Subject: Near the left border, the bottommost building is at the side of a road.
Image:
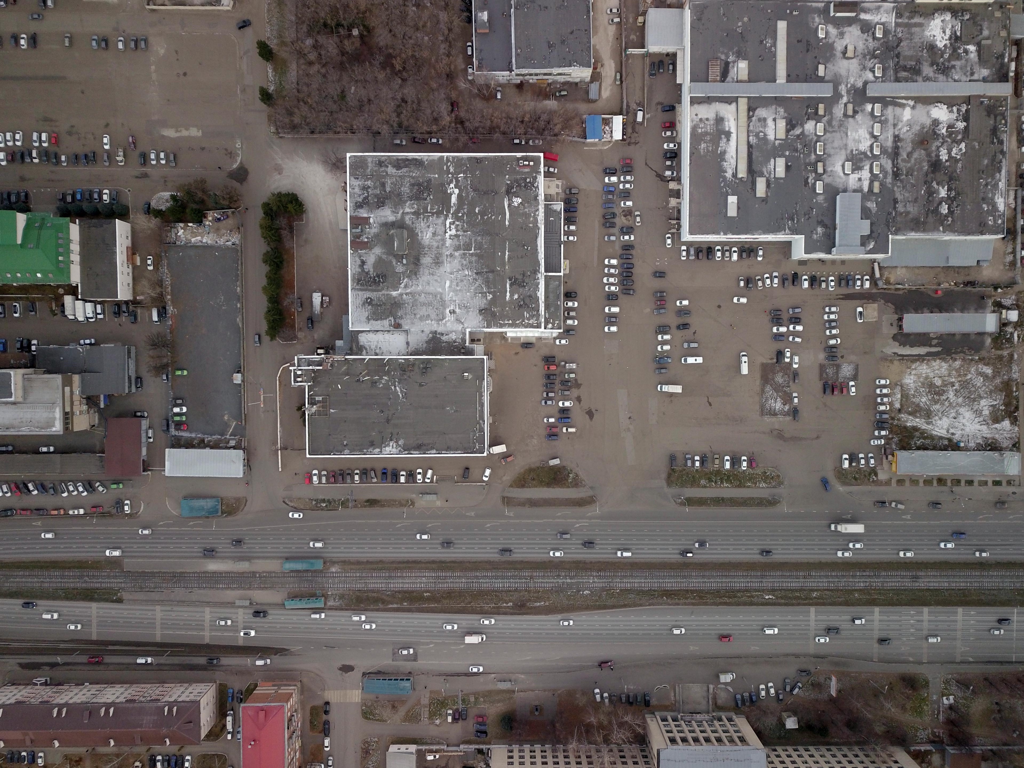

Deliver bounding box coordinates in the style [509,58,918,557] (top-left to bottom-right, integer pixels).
[0,684,218,749]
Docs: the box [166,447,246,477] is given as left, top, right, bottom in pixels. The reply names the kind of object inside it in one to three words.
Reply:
shed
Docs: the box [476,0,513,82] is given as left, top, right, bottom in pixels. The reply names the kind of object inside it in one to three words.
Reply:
building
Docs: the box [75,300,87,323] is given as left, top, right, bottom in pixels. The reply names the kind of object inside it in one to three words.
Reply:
vehicle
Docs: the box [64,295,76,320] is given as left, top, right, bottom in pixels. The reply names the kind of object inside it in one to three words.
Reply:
vehicle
